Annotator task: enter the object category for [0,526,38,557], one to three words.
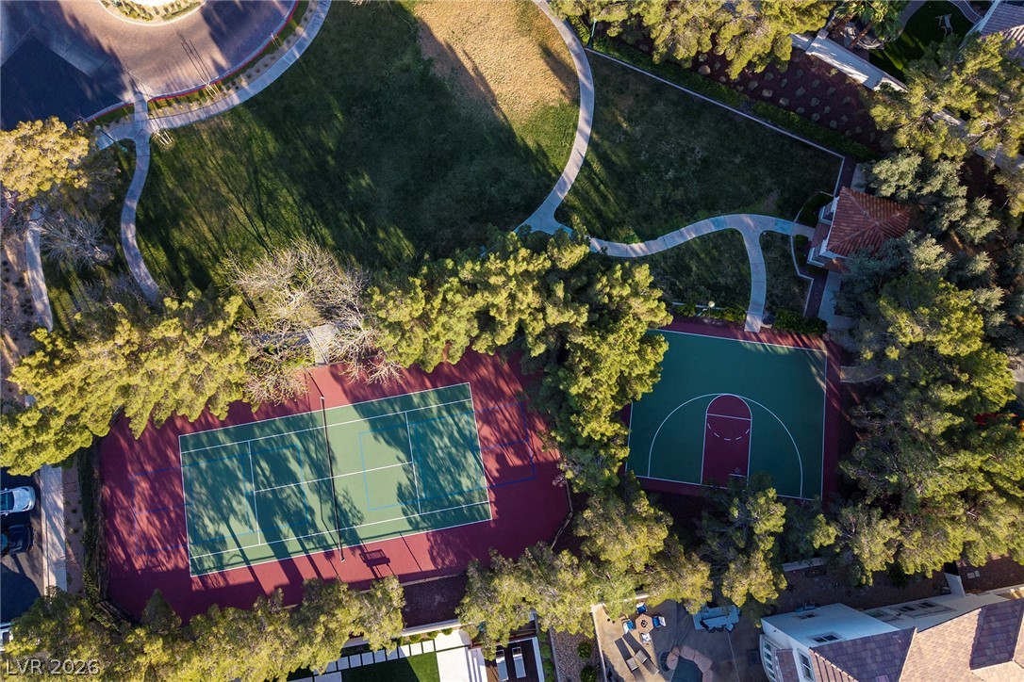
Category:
car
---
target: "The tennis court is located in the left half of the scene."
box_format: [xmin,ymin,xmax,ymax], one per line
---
[99,332,571,632]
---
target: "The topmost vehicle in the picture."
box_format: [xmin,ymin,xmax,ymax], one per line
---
[0,486,38,515]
